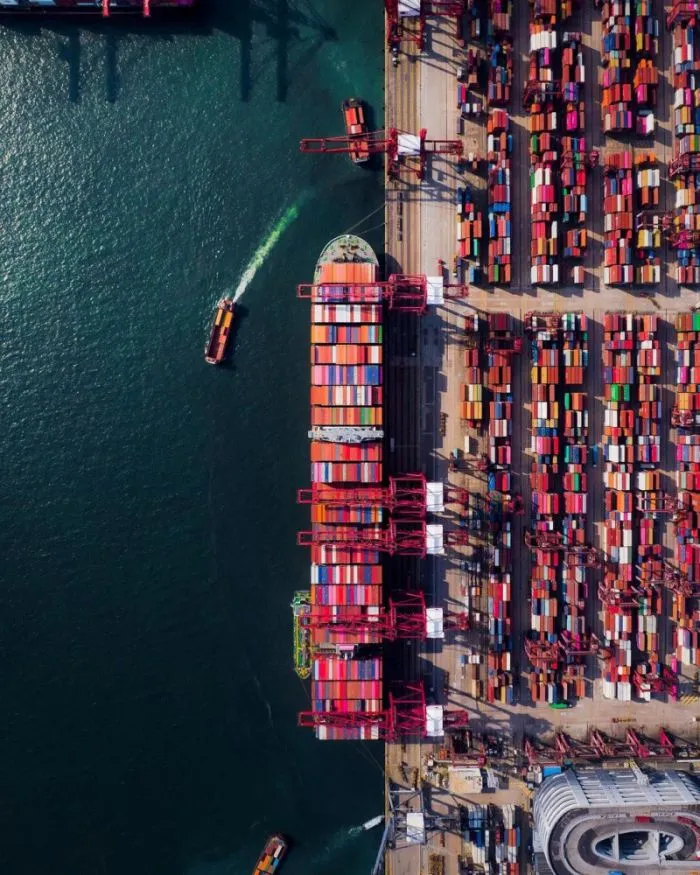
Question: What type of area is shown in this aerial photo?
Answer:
port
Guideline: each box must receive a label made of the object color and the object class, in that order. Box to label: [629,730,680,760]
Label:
red container crane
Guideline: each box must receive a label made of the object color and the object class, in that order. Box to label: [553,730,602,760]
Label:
red container crane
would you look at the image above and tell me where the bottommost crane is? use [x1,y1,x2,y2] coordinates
[372,778,462,875]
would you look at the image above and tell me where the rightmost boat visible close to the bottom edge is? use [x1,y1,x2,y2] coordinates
[362,817,382,831]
